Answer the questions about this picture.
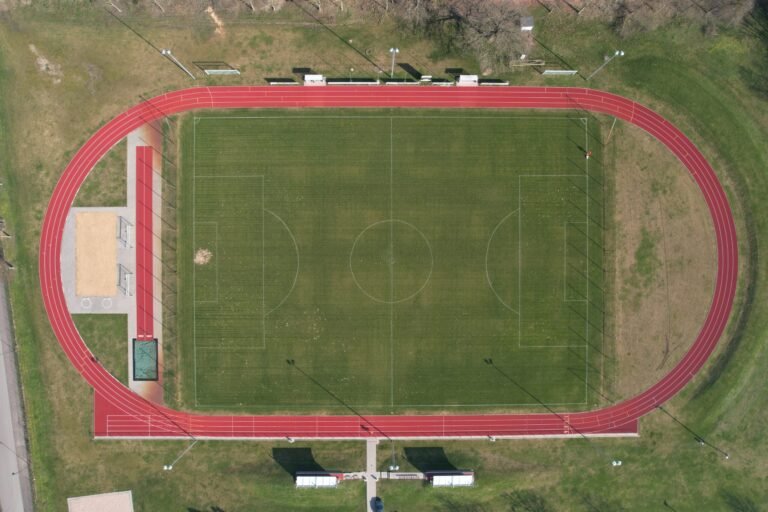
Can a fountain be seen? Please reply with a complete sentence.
No, there's no fountain here.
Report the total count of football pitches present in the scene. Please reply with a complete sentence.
Only 1 football pitch is visible.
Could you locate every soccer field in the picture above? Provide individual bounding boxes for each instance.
[182,109,604,412]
